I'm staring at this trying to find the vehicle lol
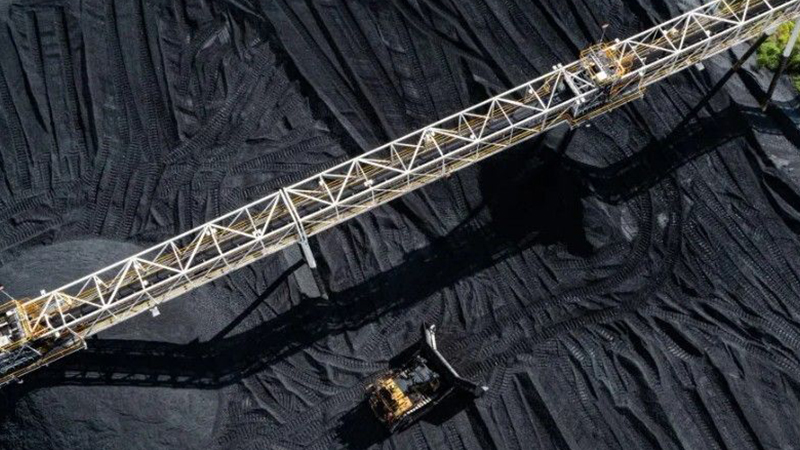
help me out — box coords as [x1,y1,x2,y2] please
[370,323,485,434]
